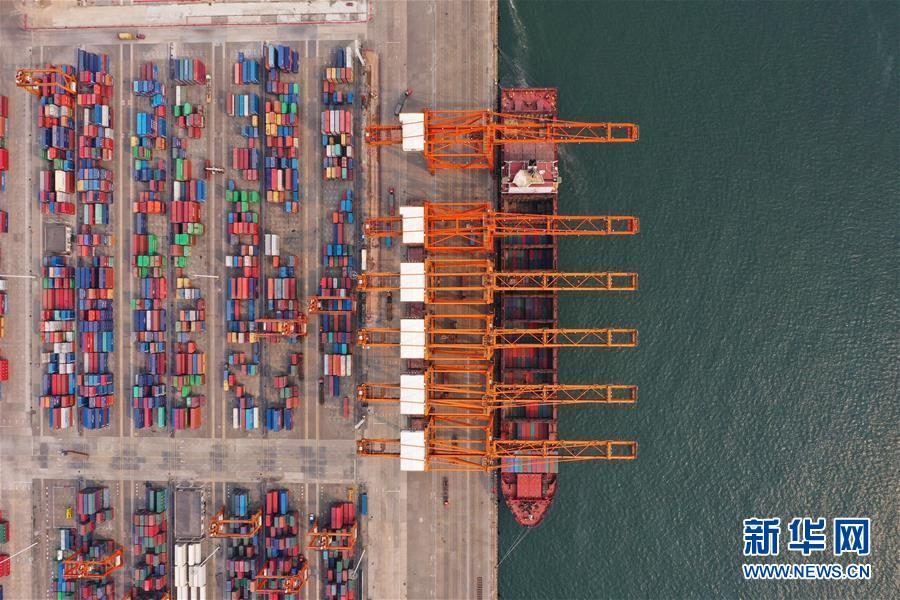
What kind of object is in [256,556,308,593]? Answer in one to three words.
container crane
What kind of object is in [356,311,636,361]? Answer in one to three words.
container crane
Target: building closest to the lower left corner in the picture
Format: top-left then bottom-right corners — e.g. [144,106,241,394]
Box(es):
[174,483,207,538]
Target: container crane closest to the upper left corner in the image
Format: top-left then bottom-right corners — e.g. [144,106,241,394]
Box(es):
[17,69,79,101]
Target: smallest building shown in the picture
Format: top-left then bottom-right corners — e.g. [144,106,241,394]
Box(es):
[45,224,71,253]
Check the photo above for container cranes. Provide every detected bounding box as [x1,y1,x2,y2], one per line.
[60,543,124,579]
[356,311,636,361]
[308,293,358,317]
[356,410,635,474]
[256,314,308,339]
[356,361,636,418]
[356,258,636,307]
[364,201,638,256]
[209,505,266,539]
[17,69,79,101]
[256,556,308,593]
[308,516,358,551]
[364,109,638,174]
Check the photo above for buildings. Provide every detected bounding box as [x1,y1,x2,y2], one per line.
[174,483,207,538]
[45,224,71,253]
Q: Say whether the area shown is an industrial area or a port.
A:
port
